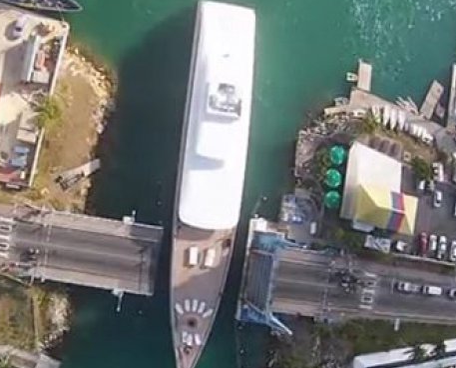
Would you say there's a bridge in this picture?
Yes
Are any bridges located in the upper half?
No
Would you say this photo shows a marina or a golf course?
marina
